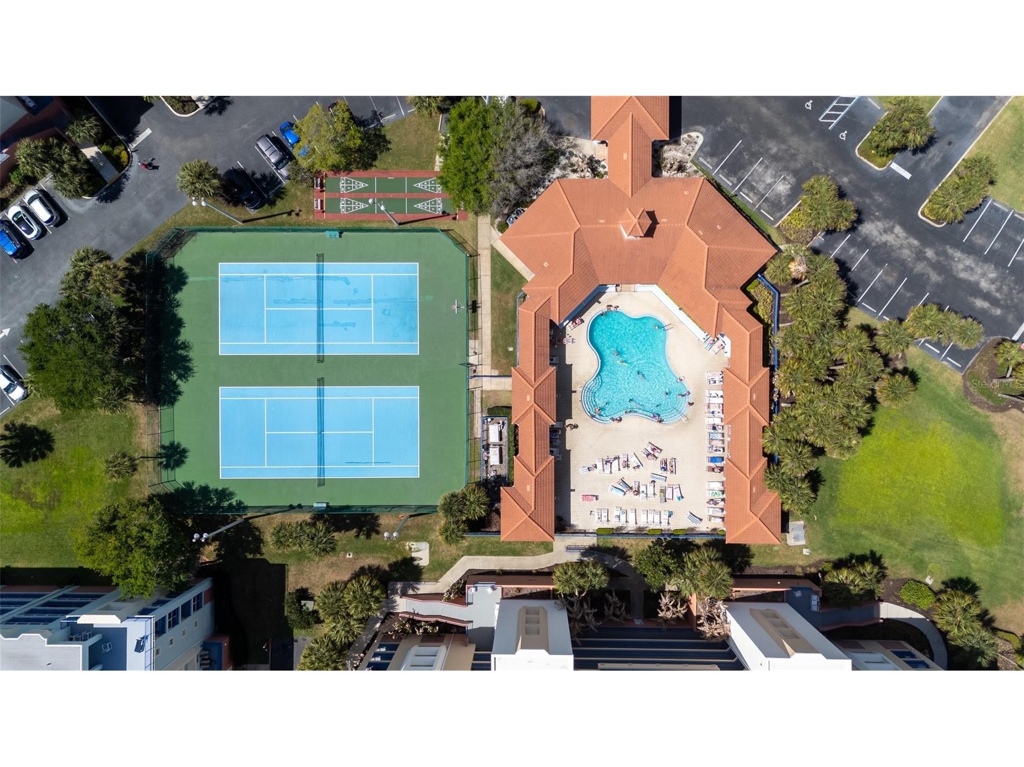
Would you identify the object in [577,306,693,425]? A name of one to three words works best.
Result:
swimming pool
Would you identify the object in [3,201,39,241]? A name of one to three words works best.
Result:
car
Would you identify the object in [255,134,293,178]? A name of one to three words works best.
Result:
car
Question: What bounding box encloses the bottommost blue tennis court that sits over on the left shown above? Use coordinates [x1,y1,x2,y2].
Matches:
[220,378,420,488]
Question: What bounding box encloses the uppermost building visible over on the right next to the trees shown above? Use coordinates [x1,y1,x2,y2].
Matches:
[499,20,782,545]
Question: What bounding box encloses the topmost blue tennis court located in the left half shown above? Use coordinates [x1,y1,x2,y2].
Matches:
[219,253,419,363]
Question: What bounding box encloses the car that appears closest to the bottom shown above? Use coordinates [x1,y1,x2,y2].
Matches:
[0,365,24,403]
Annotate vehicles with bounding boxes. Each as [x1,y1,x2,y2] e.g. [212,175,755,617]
[21,187,58,227]
[0,219,23,258]
[276,117,310,156]
[0,365,24,403]
[3,201,39,241]
[223,166,261,209]
[255,134,293,178]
